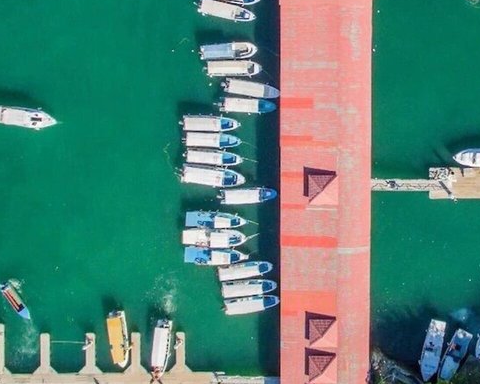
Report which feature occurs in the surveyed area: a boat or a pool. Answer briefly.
boat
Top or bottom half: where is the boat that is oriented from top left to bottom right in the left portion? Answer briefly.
bottom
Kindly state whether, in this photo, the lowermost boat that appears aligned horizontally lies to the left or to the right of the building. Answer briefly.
to its left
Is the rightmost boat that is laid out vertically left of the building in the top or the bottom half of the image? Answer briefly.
bottom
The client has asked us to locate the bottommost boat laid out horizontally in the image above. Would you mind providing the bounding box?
[221,294,279,316]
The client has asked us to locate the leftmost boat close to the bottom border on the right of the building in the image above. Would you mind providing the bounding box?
[421,318,446,382]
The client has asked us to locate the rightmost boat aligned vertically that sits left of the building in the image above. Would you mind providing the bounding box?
[150,315,174,379]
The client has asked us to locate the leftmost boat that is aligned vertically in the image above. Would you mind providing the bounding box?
[109,308,134,368]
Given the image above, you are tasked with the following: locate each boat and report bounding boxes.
[183,133,257,151]
[184,211,256,229]
[0,108,59,131]
[221,294,279,316]
[180,166,278,187]
[215,187,278,204]
[218,78,278,100]
[181,228,258,247]
[442,329,471,380]
[181,116,241,133]
[0,281,30,319]
[198,42,278,62]
[215,98,277,116]
[184,150,256,168]
[150,315,174,379]
[216,261,279,281]
[184,247,257,265]
[421,318,446,382]
[204,59,276,80]
[218,277,278,297]
[109,308,134,368]
[196,0,278,23]
[453,150,480,168]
